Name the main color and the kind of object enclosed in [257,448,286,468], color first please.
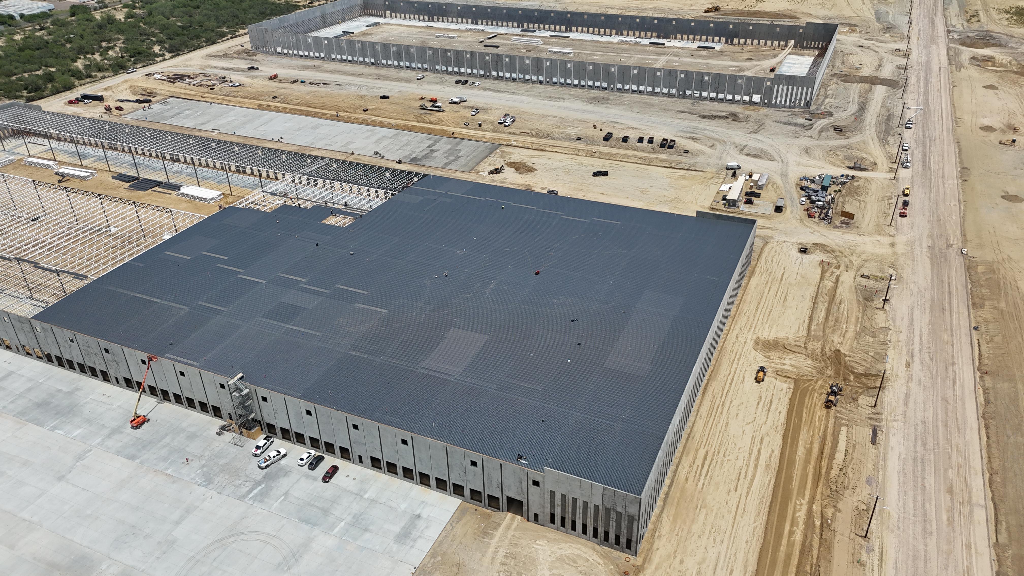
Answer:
white vehicle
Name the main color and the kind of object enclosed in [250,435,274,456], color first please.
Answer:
white truck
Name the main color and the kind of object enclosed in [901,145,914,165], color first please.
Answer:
white vehicle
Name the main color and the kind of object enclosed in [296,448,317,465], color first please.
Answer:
white car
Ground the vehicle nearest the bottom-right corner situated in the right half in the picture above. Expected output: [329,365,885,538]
[825,377,848,404]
